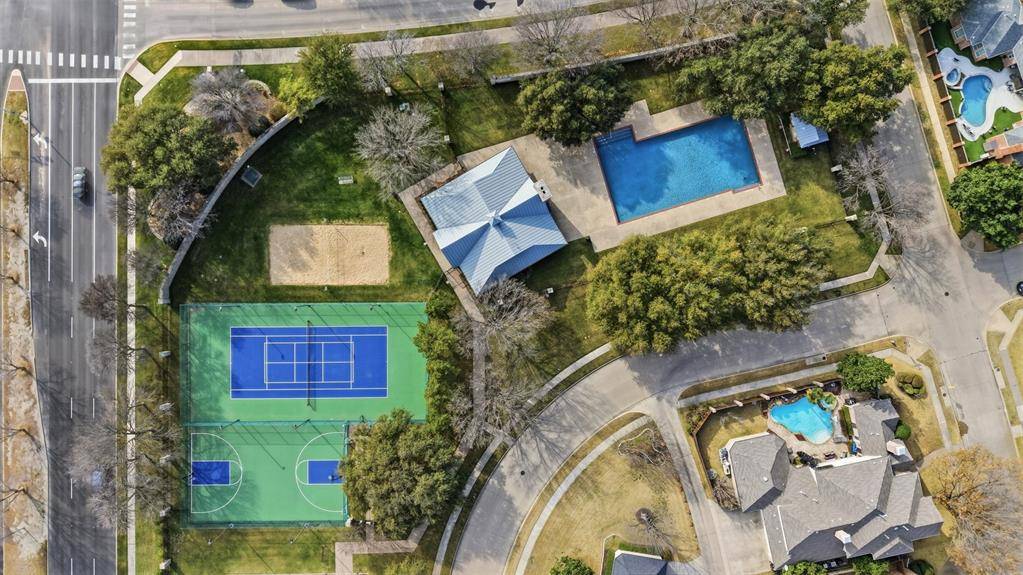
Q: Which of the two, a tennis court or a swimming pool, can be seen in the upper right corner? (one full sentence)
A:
It is a swimming pool that can be seen in the upper right corner.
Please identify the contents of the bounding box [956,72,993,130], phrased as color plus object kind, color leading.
blue swimming pool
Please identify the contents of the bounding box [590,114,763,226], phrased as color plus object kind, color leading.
blue swimming pool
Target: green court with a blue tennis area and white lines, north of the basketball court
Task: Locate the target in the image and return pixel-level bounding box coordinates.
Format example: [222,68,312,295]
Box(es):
[182,303,428,420]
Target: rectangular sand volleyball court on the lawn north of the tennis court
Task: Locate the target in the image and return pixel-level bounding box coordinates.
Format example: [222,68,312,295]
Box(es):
[269,224,390,286]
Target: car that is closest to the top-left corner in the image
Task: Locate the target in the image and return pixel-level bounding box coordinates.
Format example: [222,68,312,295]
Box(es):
[70,167,88,198]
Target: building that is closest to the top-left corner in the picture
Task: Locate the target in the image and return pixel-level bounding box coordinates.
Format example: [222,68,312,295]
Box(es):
[421,148,568,296]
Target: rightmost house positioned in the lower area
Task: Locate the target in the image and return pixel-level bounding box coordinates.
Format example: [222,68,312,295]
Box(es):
[725,399,943,567]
